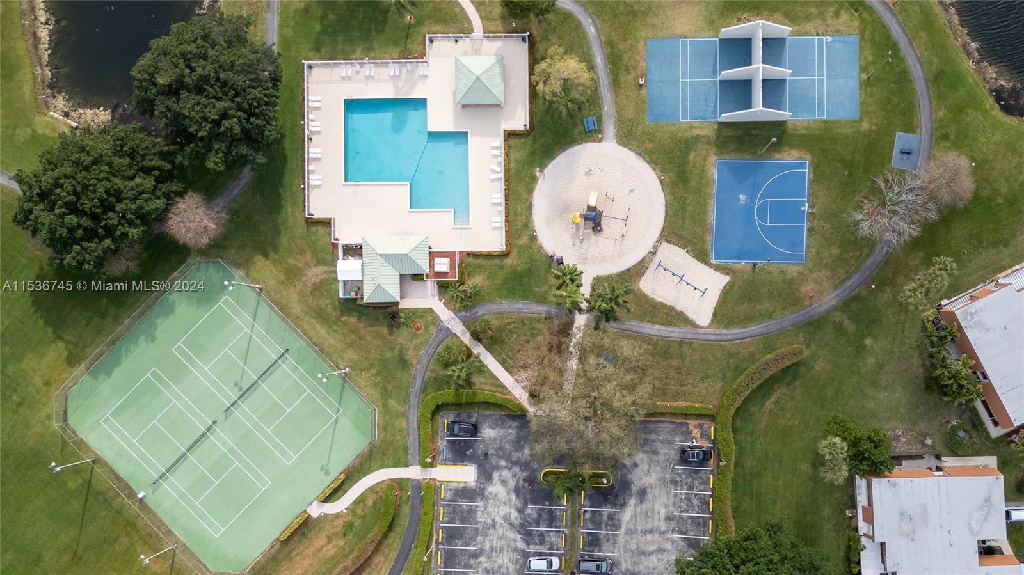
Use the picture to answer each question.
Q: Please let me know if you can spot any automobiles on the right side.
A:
Yes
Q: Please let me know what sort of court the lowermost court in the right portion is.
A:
basketball court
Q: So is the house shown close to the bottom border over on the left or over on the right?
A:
right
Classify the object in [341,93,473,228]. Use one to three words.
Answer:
swimming pool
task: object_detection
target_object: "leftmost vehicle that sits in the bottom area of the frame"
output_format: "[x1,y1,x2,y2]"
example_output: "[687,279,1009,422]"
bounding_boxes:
[445,421,478,438]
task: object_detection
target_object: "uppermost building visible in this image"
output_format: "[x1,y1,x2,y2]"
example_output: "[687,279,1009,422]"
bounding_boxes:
[455,54,505,109]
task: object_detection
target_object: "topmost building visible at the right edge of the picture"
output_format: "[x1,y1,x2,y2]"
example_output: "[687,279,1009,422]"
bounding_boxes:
[934,264,1024,427]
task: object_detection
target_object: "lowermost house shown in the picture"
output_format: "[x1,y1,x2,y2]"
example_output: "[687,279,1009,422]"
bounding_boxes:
[856,470,1024,575]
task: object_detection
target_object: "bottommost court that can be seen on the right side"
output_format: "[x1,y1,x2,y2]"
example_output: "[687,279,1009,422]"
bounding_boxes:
[711,159,810,263]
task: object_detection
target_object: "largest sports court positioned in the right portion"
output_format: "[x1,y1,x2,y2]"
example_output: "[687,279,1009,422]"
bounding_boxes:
[647,34,859,122]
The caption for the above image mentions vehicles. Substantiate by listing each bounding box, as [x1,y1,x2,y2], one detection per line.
[680,448,713,465]
[578,559,614,575]
[445,421,478,438]
[1006,507,1024,525]
[527,557,561,575]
